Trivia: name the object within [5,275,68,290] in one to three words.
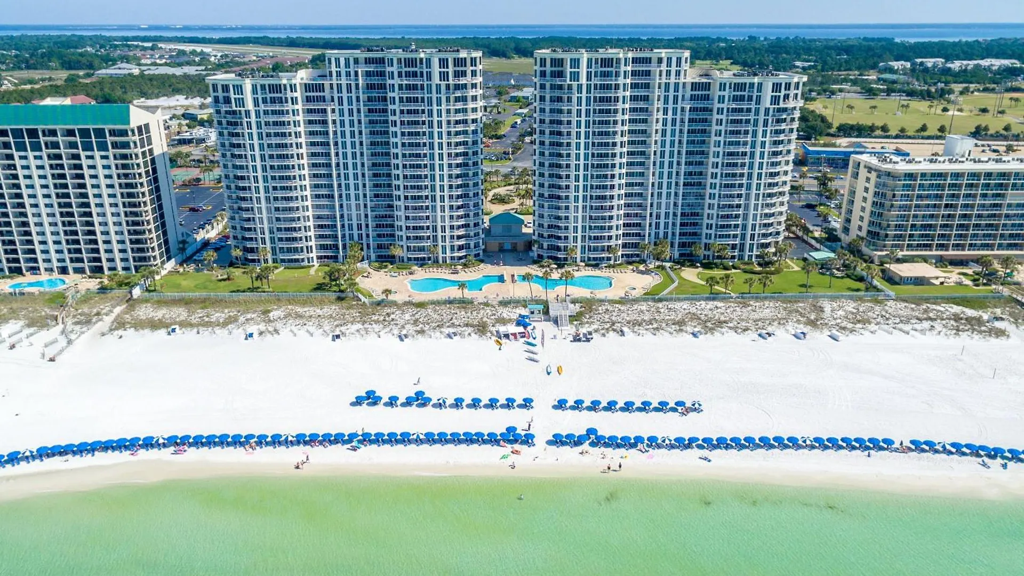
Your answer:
swimming pool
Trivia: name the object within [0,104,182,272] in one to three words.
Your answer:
building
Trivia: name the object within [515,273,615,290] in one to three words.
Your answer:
swimming pool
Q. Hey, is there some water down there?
Yes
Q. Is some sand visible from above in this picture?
Yes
